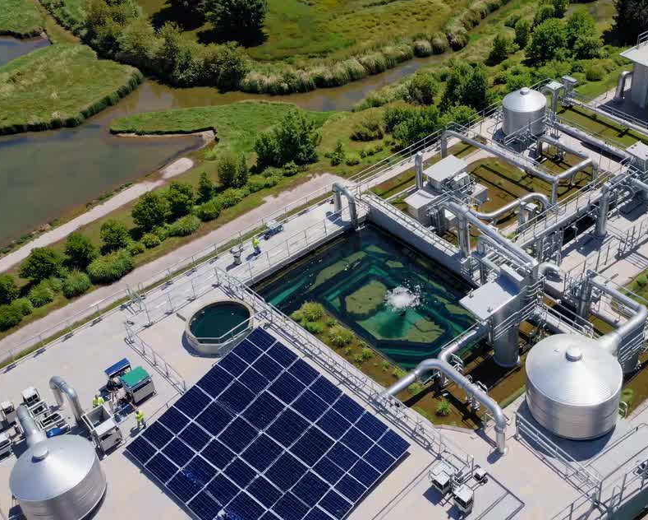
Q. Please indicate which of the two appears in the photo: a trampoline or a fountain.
fountain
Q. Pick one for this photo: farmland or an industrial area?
industrial area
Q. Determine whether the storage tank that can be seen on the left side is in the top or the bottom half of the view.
bottom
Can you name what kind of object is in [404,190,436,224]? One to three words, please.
shed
